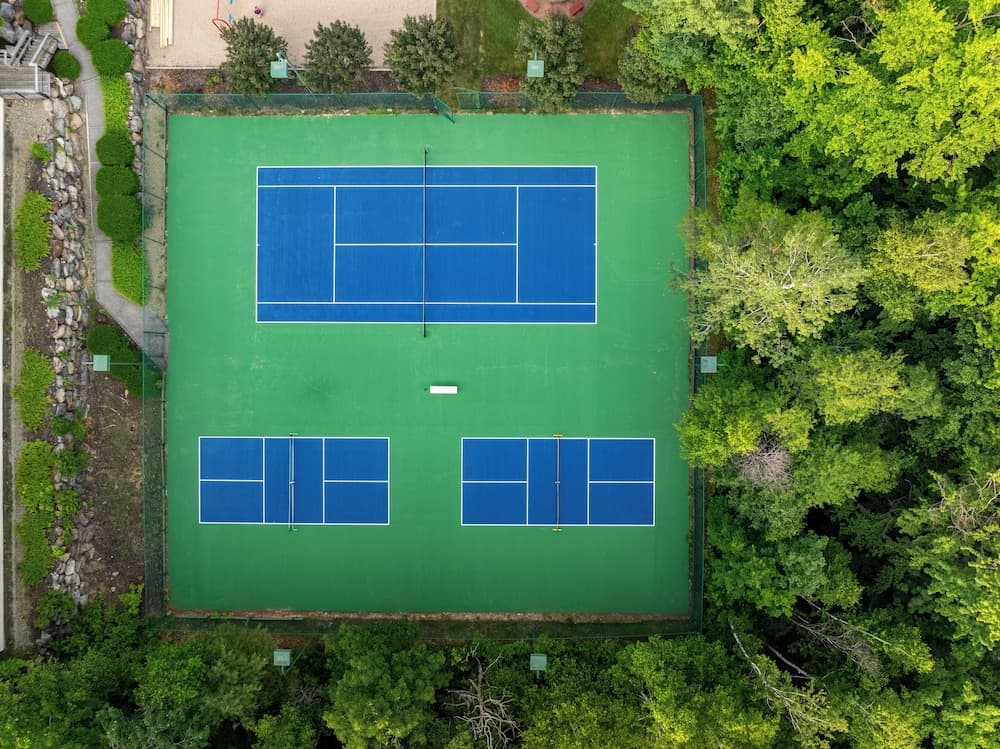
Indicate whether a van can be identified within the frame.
No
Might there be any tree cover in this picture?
Yes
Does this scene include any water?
No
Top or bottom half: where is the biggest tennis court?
top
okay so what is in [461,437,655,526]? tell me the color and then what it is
blue sports court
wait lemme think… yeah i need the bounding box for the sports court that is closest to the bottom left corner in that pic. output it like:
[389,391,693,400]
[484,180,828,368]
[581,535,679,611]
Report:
[198,437,390,525]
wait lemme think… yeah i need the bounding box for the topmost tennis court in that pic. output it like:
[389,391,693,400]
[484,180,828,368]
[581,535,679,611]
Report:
[256,165,598,324]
